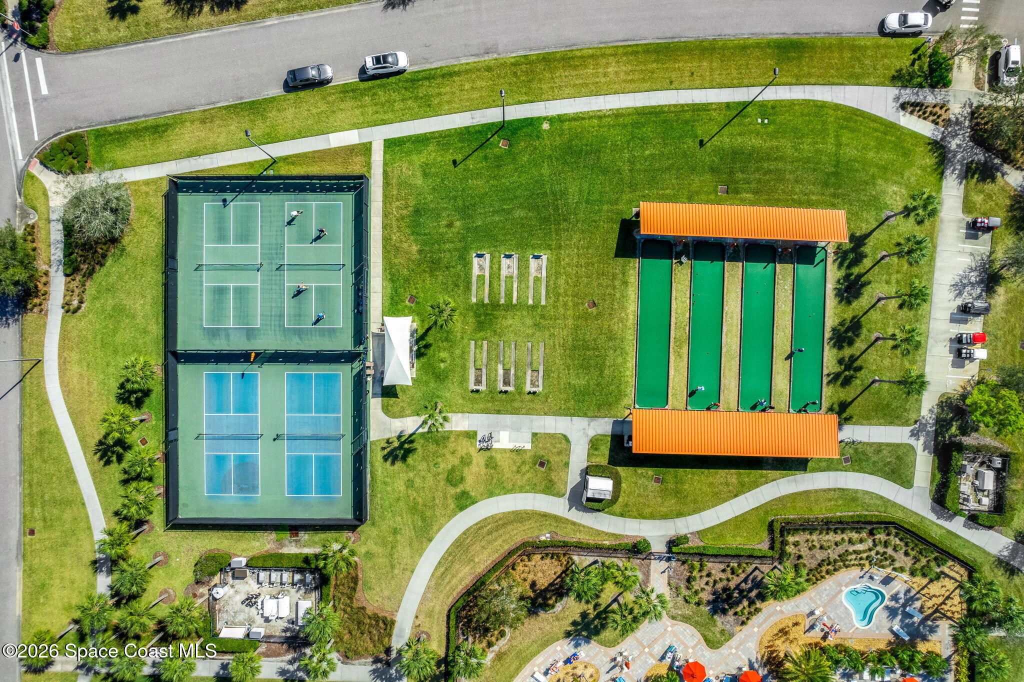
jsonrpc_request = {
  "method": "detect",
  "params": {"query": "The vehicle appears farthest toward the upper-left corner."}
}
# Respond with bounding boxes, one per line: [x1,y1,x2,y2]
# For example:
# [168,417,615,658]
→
[287,64,333,88]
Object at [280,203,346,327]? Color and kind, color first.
green sports court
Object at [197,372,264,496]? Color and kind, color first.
blue sports court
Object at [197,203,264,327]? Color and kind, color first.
green sports court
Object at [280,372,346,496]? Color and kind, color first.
blue sports court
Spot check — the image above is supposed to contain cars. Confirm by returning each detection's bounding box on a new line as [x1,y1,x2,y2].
[287,64,333,88]
[884,12,930,35]
[364,51,409,77]
[995,42,1022,87]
